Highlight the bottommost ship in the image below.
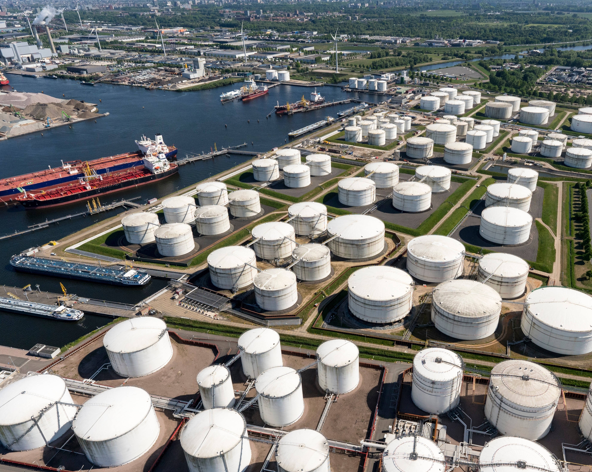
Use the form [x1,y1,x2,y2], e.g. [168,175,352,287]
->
[0,299,87,322]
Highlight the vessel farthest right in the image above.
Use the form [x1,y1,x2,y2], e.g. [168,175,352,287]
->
[337,103,369,116]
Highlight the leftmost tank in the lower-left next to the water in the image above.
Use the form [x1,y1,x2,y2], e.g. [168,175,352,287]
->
[0,373,78,453]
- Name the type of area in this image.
industrial area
